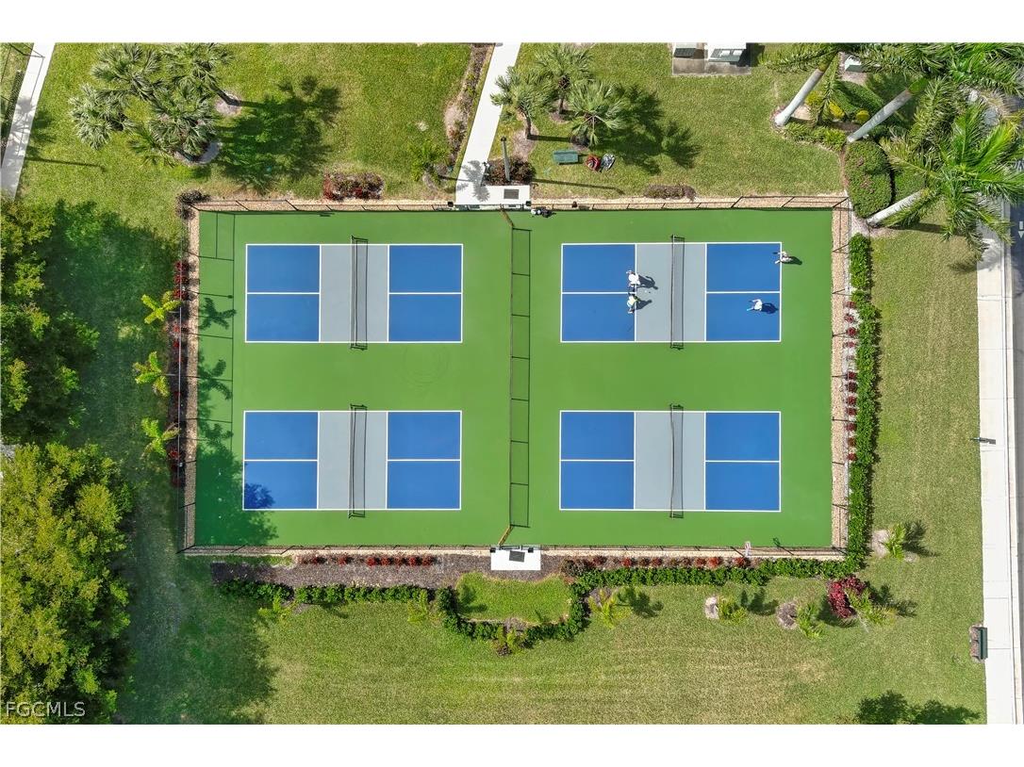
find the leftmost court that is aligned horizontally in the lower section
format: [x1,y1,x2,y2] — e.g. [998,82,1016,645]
[243,410,462,511]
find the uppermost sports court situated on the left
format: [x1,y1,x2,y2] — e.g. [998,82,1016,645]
[245,243,462,343]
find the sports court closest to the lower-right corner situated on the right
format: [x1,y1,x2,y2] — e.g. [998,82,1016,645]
[561,411,782,512]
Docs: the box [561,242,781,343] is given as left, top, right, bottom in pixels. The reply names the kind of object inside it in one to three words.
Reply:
sports court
